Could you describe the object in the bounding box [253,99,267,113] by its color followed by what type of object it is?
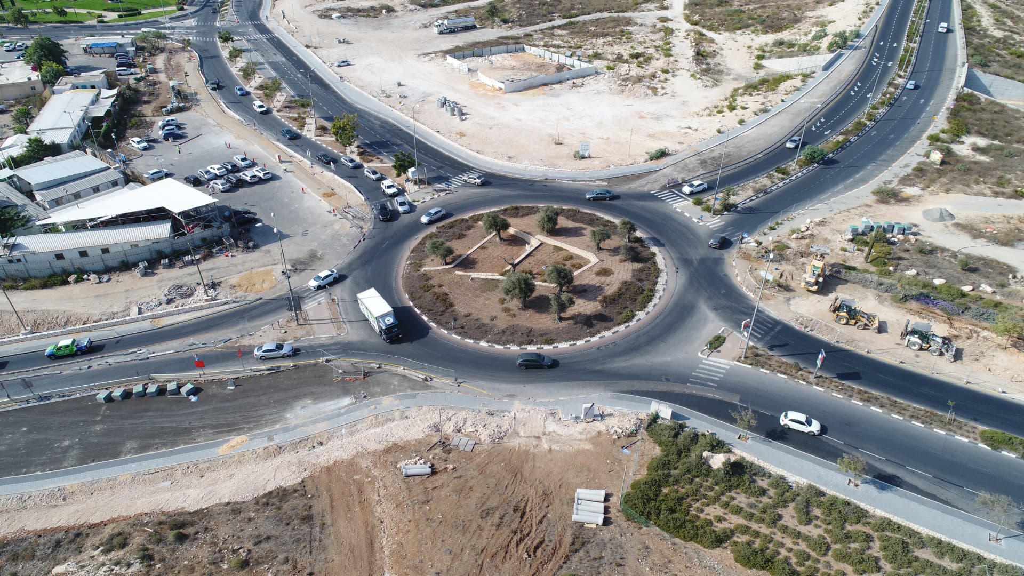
white car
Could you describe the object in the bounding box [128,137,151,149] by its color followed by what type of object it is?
white vehicle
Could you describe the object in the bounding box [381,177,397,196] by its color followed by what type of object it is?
white car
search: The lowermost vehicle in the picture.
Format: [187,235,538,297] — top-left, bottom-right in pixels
[777,410,822,437]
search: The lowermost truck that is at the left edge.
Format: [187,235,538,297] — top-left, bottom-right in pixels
[44,339,93,362]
